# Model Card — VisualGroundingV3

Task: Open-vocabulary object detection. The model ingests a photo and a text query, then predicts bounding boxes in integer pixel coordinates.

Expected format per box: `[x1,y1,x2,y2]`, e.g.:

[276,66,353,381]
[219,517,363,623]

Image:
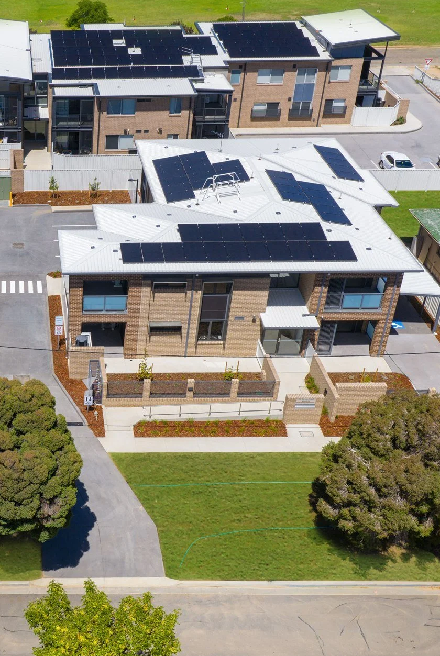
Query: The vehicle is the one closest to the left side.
[380,151,417,169]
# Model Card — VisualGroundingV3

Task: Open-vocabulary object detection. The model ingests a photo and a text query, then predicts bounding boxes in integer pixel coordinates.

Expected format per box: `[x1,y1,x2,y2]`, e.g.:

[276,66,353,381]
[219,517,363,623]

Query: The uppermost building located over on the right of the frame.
[196,7,405,126]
